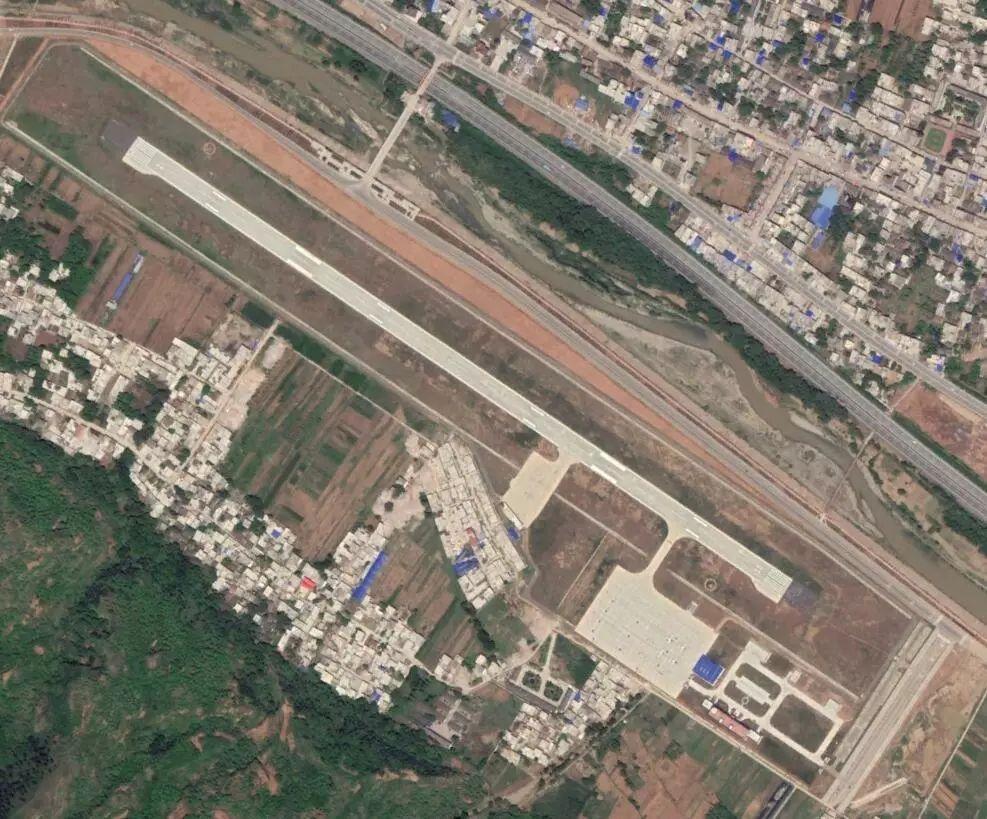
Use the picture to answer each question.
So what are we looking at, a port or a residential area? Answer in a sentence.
The picture captures a residential area.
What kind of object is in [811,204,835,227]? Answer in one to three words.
building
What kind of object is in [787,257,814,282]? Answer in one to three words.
house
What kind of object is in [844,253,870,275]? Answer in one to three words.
house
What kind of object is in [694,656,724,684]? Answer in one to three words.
hangar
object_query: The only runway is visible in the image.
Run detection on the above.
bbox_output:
[123,138,791,603]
